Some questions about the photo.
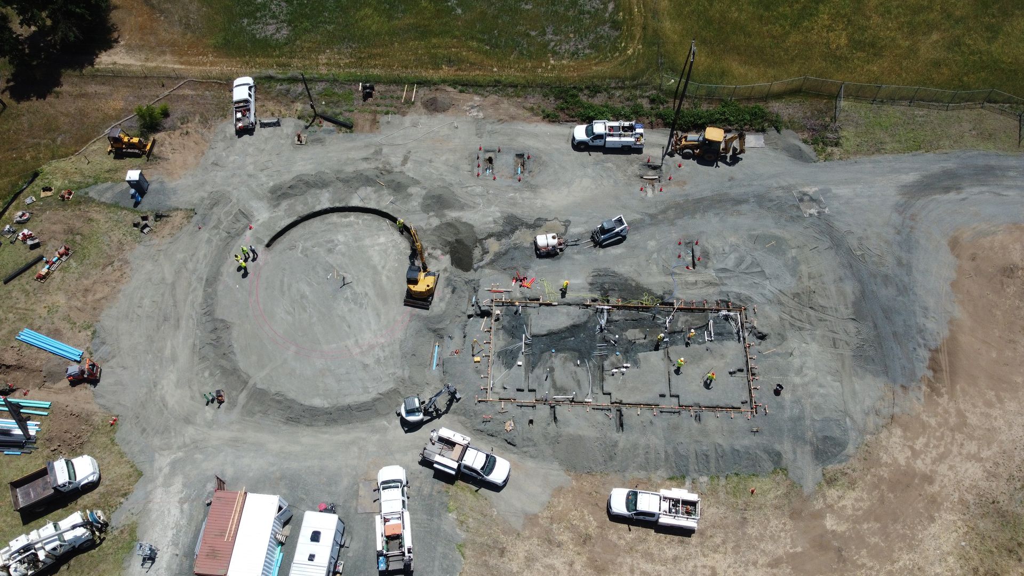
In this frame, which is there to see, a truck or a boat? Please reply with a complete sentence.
Looking from above, you can make out a truck.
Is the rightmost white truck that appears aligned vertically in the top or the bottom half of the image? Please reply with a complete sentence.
The rightmost white truck that appears aligned vertically is in the bottom half of the image.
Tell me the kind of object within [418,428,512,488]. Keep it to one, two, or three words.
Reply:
truck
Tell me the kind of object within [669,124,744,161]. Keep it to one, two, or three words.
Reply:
work vehicle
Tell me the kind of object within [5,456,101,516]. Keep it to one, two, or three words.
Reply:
truck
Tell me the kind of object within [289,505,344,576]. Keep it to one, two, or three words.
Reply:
trailer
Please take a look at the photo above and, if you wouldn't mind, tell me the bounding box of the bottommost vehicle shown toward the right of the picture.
[607,484,699,531]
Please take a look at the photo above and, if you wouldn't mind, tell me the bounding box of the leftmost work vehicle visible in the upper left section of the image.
[104,128,153,161]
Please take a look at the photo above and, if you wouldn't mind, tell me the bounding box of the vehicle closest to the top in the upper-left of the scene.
[229,78,258,132]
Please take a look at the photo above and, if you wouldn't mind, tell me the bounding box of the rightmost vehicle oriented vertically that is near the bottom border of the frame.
[371,468,414,576]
